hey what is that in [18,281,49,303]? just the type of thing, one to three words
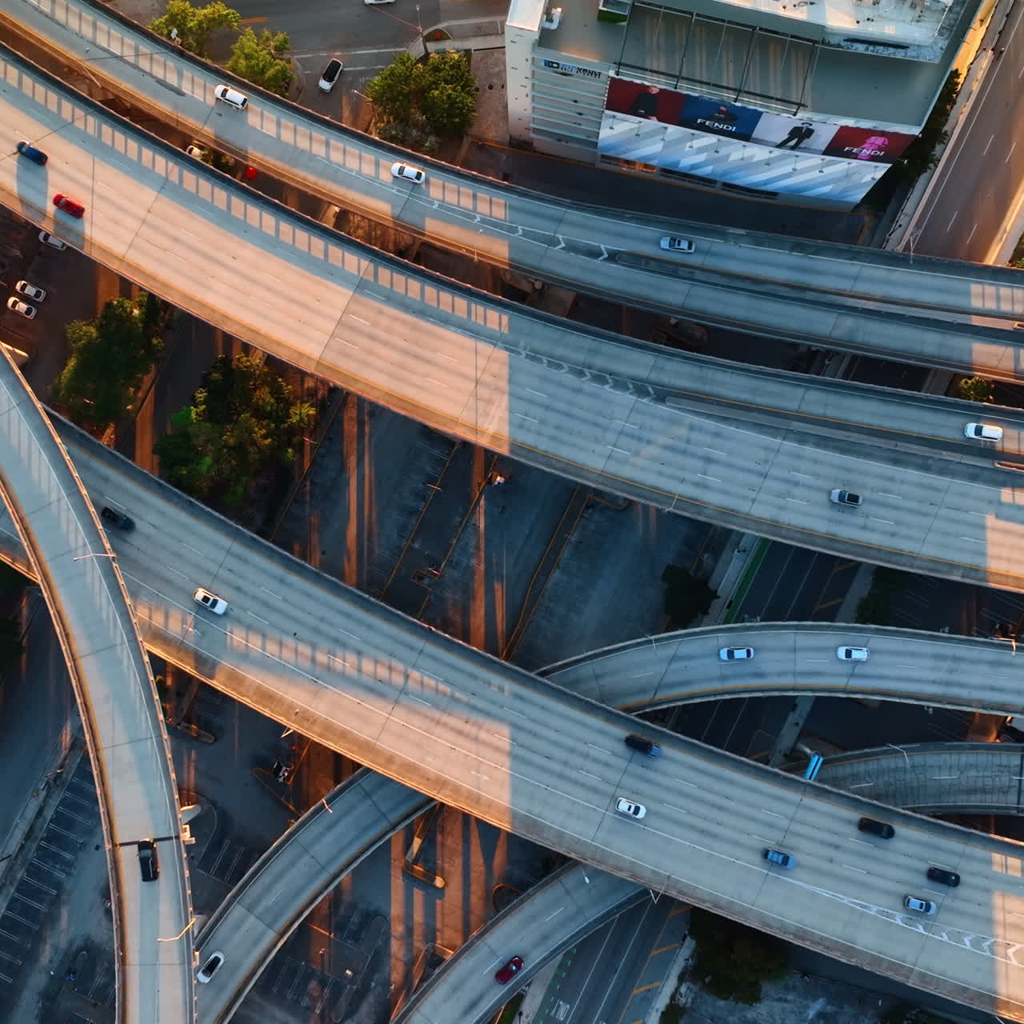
car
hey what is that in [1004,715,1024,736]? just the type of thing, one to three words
car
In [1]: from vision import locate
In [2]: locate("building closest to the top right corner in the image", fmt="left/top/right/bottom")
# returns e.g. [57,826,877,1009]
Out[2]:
[507,0,988,213]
